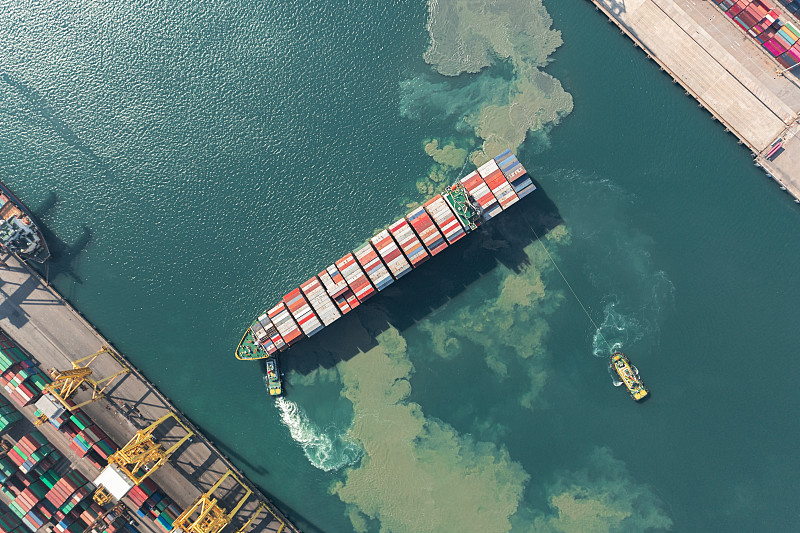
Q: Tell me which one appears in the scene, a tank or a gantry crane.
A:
gantry crane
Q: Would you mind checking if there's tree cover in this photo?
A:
No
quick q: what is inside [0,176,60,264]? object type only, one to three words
ship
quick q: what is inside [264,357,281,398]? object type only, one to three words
boat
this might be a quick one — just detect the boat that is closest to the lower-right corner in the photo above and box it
[614,352,649,402]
